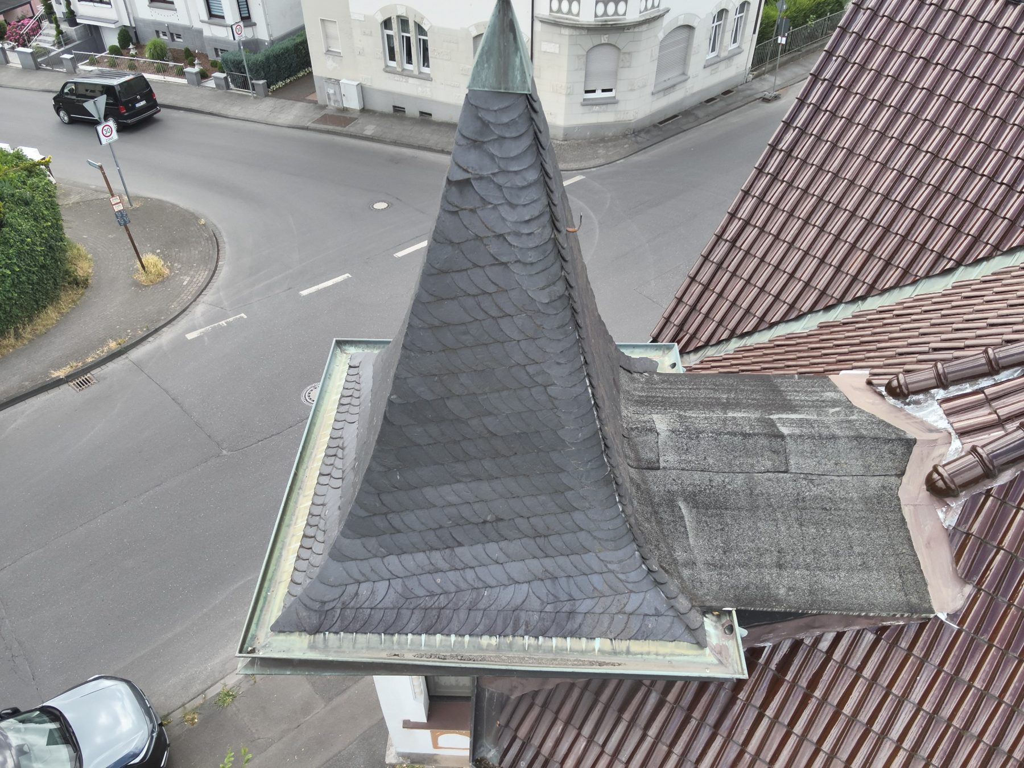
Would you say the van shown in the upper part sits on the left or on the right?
left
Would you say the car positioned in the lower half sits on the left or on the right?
left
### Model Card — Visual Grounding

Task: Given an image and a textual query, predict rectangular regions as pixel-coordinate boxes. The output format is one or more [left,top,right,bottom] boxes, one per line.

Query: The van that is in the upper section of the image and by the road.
[56,66,160,132]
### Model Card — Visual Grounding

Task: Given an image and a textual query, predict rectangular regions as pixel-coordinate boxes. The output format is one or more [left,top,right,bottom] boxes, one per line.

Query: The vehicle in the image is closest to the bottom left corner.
[0,664,171,768]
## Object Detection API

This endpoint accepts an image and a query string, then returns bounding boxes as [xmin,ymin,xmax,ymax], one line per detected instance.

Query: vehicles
[56,66,160,132]
[0,664,171,768]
